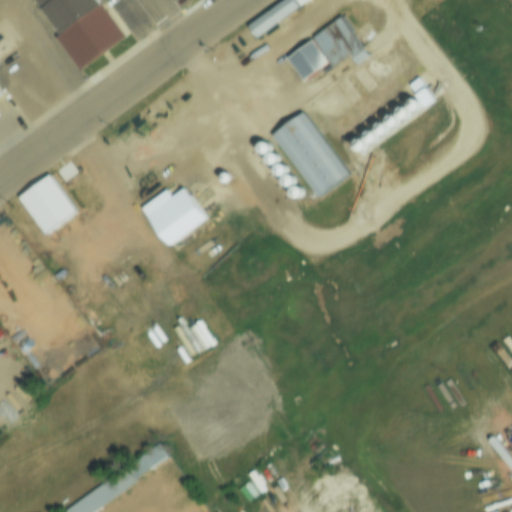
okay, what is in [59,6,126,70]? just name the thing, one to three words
building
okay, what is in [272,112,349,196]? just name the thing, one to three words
shed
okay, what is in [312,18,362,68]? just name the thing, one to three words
barn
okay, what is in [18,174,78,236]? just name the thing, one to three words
building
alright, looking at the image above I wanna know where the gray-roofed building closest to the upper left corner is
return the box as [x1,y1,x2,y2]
[36,0,103,36]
